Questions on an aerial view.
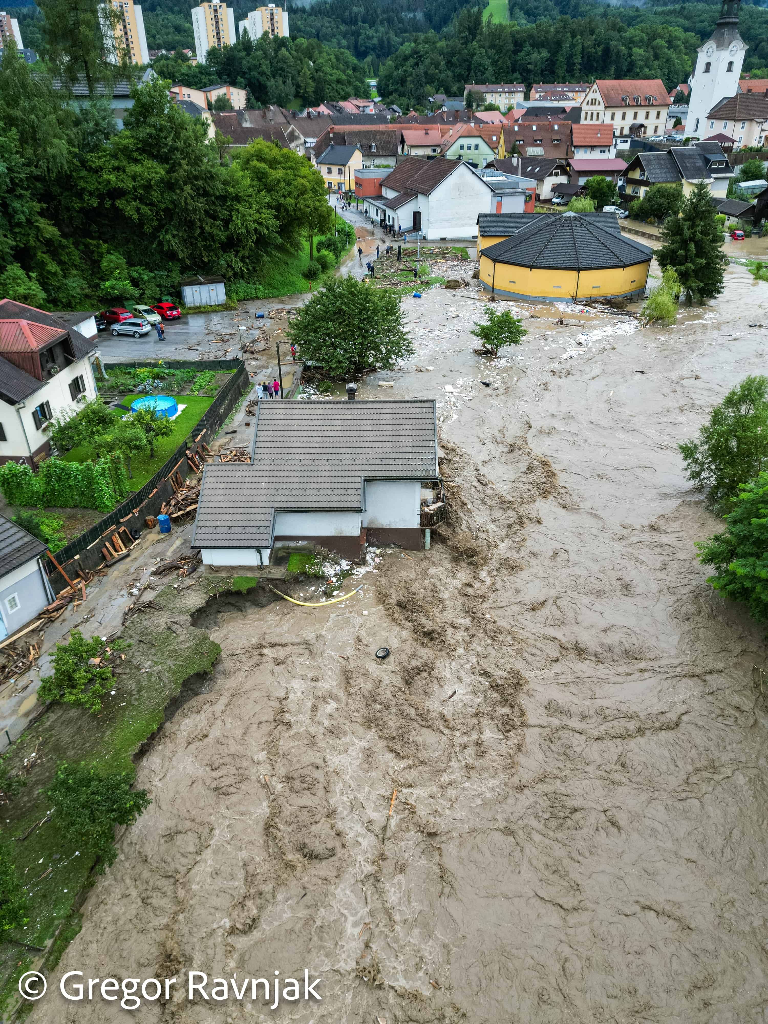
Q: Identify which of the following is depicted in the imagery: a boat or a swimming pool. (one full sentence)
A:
Looking from above, you can make out a swimming pool.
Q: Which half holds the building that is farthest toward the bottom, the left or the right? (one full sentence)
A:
You can find the building that is farthest toward the bottom on the left side of the picture.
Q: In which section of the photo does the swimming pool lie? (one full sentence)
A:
The swimming pool is located in the left region of the scene.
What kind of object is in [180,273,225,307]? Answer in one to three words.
shed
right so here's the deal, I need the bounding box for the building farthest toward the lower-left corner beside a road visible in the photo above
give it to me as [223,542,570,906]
[0,516,52,640]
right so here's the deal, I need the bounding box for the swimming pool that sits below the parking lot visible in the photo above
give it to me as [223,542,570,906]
[127,391,180,422]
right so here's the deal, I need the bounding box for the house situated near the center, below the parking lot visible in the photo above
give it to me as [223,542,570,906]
[189,377,448,568]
